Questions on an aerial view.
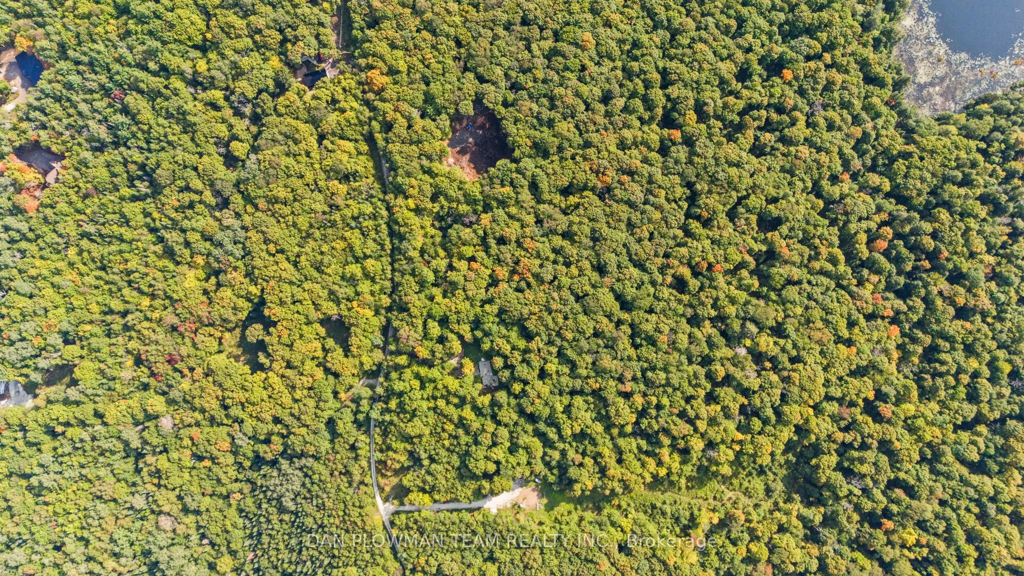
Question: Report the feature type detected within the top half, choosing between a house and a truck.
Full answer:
You can see a house within the top half.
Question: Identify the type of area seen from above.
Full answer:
The picture captures a forest.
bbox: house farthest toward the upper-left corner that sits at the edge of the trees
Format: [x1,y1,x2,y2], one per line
[8,49,44,85]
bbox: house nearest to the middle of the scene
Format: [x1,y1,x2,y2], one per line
[478,360,501,388]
